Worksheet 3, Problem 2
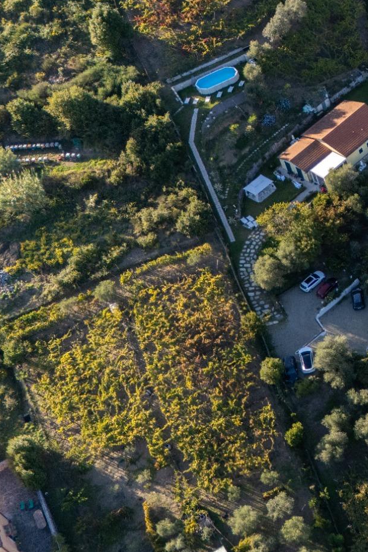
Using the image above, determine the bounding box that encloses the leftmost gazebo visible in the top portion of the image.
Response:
[243,174,277,206]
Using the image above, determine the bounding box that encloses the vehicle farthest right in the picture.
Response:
[348,284,364,309]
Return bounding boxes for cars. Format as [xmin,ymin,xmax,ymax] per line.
[313,274,341,299]
[298,267,327,292]
[280,352,300,382]
[348,284,364,309]
[295,343,314,374]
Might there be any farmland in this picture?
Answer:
Yes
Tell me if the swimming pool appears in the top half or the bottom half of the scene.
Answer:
top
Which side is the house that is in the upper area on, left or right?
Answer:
right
